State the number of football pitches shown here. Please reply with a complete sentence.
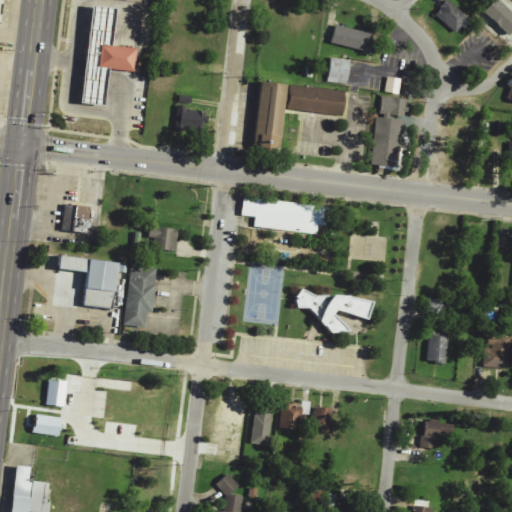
Not a single football pitch can be seen.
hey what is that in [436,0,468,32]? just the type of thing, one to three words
house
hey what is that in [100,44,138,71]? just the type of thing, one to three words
building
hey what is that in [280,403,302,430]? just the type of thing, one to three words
house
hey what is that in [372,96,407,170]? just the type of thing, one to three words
building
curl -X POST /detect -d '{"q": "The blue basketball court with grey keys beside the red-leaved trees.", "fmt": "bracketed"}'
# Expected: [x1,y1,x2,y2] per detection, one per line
[242,266,285,324]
